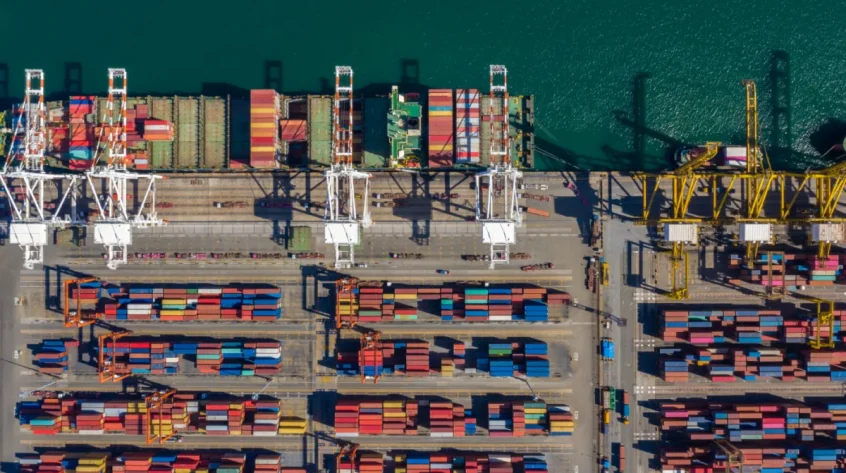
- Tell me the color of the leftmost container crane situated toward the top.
white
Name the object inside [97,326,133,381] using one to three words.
container crane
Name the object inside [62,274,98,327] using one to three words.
container crane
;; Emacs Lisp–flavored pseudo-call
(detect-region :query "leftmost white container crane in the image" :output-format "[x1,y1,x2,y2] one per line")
[0,64,97,270]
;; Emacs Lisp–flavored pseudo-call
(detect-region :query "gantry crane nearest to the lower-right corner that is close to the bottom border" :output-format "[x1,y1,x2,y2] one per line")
[711,441,746,473]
